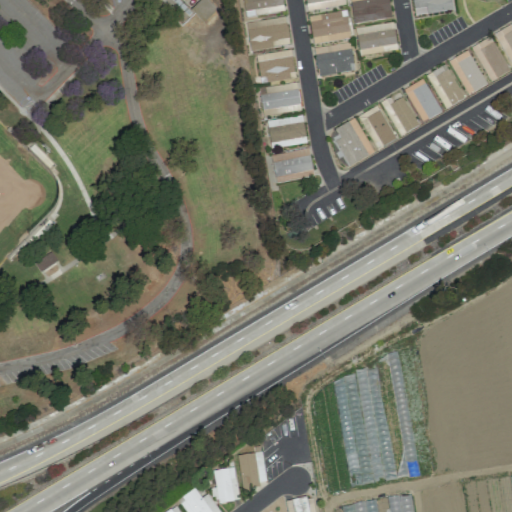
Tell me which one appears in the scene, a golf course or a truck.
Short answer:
truck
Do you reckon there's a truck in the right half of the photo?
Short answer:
Yes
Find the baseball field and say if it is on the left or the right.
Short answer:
left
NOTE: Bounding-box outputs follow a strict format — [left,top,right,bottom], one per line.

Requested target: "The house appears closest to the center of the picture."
[272,148,314,182]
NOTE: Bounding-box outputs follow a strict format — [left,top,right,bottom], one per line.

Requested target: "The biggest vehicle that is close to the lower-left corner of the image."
[28,436,59,454]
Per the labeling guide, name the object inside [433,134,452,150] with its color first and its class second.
white camper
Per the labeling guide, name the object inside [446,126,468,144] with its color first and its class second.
white camper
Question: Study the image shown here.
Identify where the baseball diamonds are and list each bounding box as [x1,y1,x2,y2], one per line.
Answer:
[0,122,59,261]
